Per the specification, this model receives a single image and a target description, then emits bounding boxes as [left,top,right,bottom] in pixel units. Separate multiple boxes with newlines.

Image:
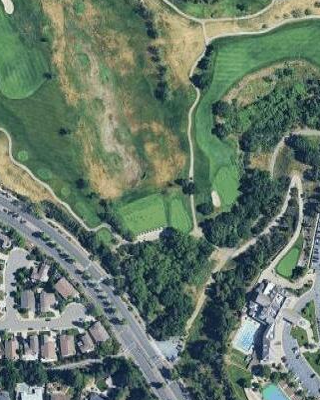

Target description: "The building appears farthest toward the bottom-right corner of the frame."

[245,278,292,334]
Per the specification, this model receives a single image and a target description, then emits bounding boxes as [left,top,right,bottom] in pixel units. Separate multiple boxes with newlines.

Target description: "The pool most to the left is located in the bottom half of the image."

[231,315,261,350]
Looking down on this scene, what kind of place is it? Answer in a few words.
golf course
